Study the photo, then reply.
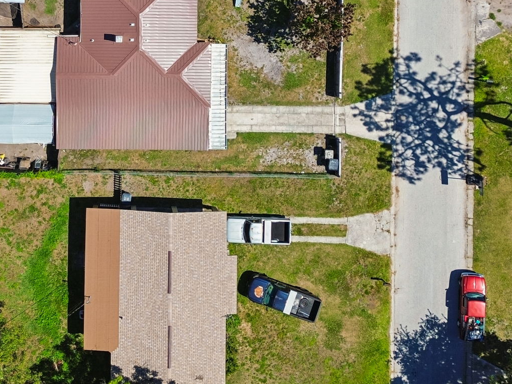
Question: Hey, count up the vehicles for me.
3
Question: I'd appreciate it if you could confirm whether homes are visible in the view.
Yes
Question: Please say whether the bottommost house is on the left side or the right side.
left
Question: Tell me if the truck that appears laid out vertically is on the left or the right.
right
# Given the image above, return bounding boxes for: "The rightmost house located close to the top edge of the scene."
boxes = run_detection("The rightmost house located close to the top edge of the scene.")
[56,0,218,150]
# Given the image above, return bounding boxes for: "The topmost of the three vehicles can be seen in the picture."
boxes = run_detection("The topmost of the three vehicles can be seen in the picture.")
[226,213,294,246]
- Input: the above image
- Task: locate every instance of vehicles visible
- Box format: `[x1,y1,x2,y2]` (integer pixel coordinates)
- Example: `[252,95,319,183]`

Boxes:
[241,271,320,321]
[453,267,488,343]
[226,213,294,246]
